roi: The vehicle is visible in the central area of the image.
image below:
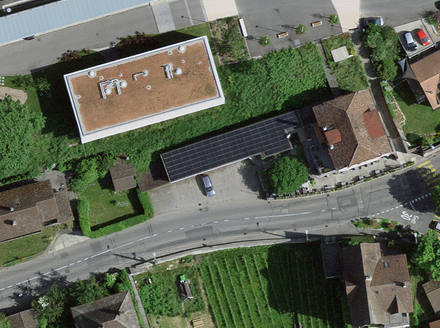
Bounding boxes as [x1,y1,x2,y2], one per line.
[202,175,216,198]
